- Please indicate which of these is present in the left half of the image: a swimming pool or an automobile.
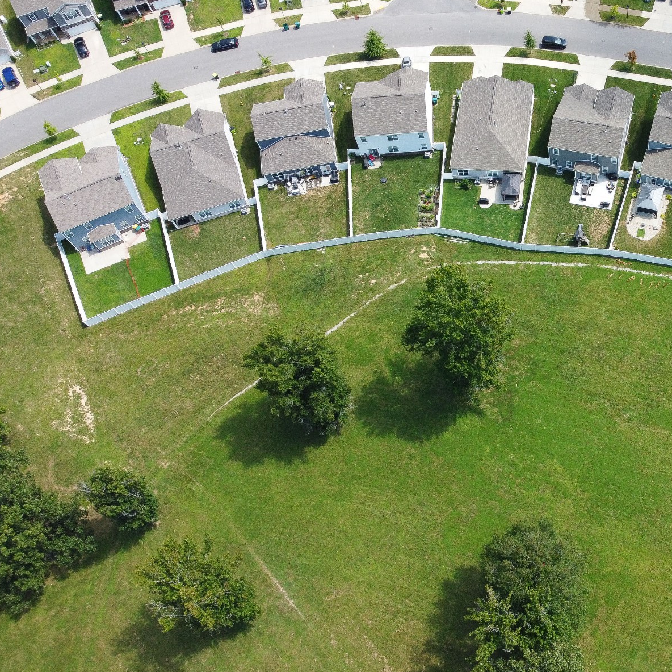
automobile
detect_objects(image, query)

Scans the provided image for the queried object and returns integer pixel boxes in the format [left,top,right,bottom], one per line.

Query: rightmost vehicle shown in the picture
[539,33,568,49]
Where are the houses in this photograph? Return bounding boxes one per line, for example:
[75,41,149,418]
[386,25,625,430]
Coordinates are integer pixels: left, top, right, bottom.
[0,23,15,65]
[150,107,250,229]
[9,0,100,48]
[251,78,339,184]
[112,0,183,22]
[352,67,434,158]
[547,83,635,185]
[41,143,149,252]
[448,74,536,180]
[638,91,672,191]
